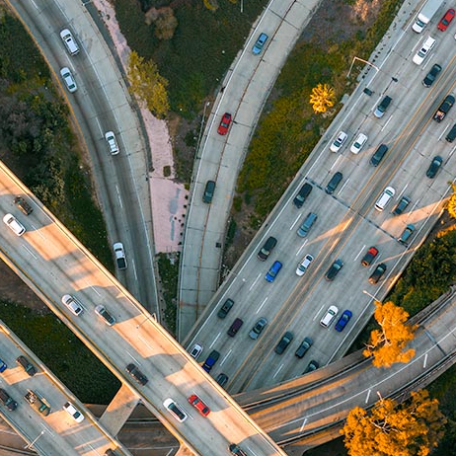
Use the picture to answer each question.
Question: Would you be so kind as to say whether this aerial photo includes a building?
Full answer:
No, I can't see a single building in this photo.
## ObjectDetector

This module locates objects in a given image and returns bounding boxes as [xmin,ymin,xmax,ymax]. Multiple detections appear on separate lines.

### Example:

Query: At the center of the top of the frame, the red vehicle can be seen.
[218,111,233,135]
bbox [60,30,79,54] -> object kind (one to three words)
car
